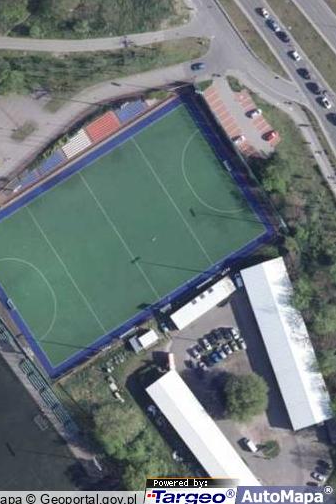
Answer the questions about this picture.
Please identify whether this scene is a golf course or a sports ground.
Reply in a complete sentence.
This image shows a sports ground.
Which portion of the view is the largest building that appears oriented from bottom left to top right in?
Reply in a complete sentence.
Look in the center portion of the view to spot the largest building that appears oriented from bottom left to top right.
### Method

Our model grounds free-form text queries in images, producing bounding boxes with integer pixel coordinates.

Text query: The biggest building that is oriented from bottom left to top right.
[170,277,237,330]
